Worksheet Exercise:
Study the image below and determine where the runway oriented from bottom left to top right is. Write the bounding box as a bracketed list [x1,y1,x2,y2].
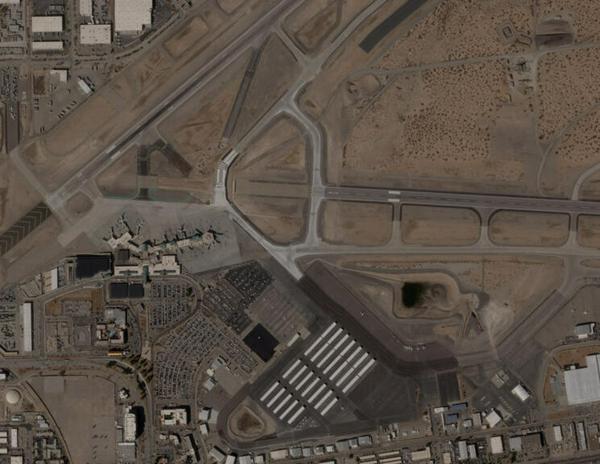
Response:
[0,0,309,254]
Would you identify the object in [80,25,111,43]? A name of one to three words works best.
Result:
building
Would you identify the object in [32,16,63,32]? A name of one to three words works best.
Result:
building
